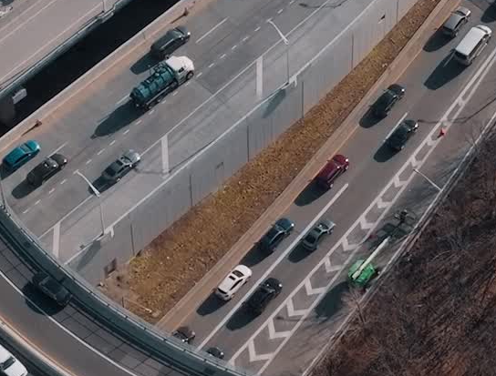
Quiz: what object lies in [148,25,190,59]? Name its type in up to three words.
car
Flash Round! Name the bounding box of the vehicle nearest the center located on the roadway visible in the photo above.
[258,216,296,254]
